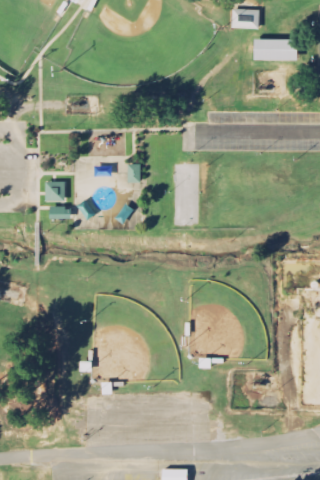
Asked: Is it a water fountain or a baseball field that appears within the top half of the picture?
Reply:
baseball field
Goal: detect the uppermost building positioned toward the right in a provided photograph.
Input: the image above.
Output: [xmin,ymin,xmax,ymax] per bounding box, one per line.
[232,9,260,28]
